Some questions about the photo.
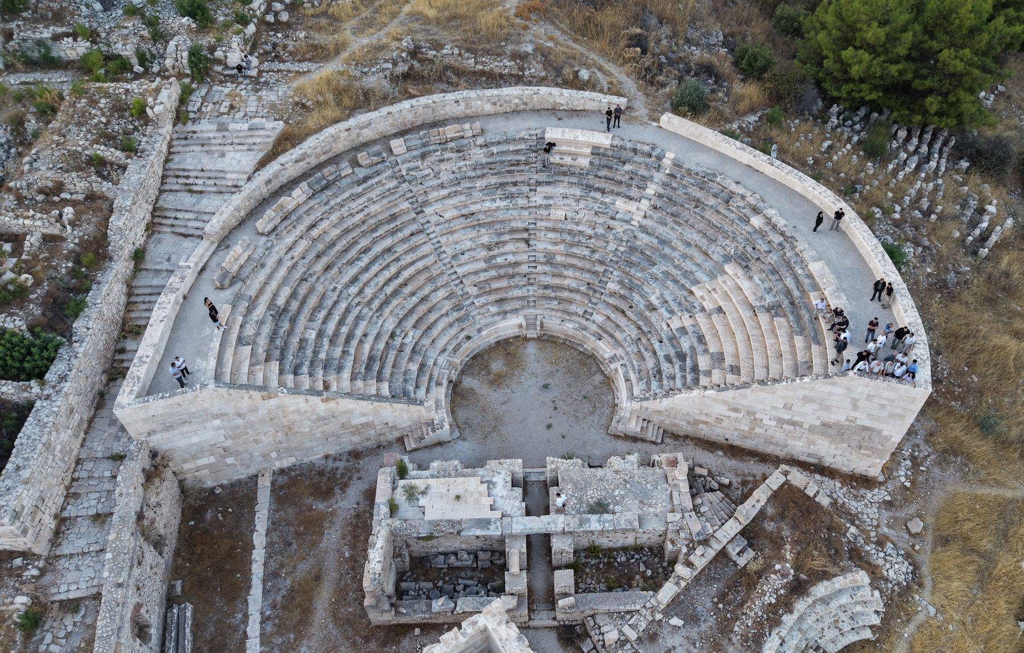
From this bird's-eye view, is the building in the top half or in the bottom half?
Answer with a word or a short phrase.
bottom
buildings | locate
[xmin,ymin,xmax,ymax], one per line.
[363,452,691,628]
